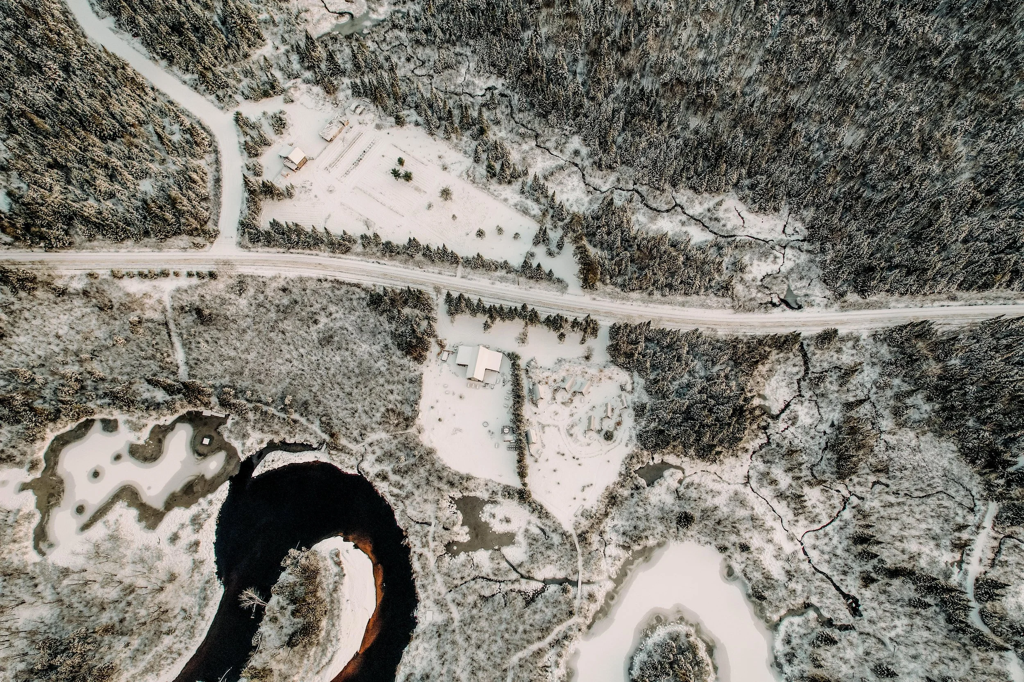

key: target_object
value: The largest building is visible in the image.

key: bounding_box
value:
[455,345,503,385]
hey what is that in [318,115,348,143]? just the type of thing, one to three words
shed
